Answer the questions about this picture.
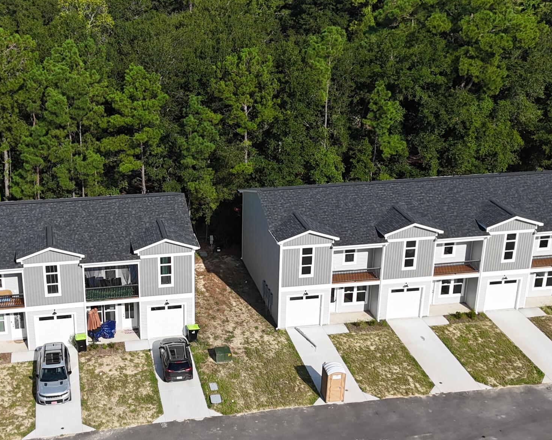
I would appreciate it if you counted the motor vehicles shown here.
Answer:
two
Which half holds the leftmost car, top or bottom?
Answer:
bottom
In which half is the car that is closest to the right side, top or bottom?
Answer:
bottom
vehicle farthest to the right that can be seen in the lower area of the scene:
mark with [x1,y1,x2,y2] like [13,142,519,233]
[158,339,192,383]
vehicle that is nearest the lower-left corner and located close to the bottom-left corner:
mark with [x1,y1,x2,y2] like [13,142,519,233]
[35,346,74,406]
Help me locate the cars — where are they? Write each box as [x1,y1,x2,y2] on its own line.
[158,339,192,383]
[35,346,74,406]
